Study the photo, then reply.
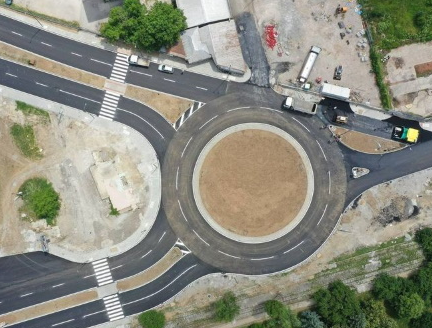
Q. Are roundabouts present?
Yes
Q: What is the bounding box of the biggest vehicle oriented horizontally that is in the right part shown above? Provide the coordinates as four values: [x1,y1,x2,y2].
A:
[281,94,319,113]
